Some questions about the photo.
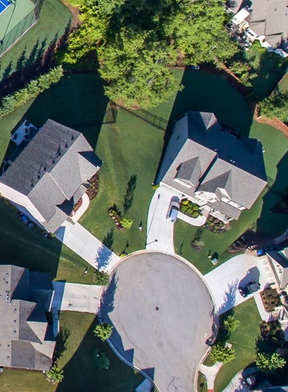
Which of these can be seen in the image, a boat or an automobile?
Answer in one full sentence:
I can see an automobile in this picture.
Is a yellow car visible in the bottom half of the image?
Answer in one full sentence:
No, I can find no yellow car in the bottom half of the image.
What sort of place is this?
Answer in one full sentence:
The area seen from above is a residential area.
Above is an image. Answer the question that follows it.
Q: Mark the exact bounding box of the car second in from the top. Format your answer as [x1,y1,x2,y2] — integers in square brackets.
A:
[241,280,264,299]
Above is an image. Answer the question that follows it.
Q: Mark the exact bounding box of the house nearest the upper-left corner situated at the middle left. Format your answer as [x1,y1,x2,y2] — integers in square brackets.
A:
[0,118,97,239]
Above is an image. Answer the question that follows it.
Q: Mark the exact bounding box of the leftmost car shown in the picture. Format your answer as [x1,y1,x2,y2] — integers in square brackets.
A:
[167,197,183,223]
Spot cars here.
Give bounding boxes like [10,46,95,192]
[167,197,183,223]
[241,280,264,299]
[239,369,269,392]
